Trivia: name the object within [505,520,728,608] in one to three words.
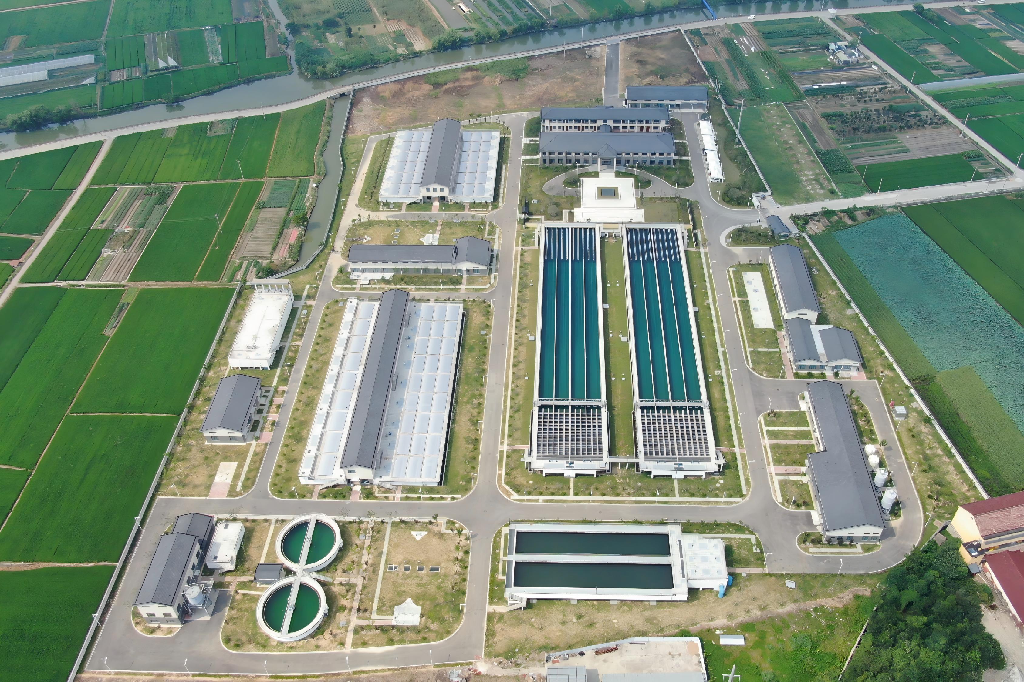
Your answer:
water tank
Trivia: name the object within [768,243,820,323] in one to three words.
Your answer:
building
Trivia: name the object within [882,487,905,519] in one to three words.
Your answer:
silo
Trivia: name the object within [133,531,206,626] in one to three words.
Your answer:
house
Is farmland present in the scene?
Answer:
Yes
